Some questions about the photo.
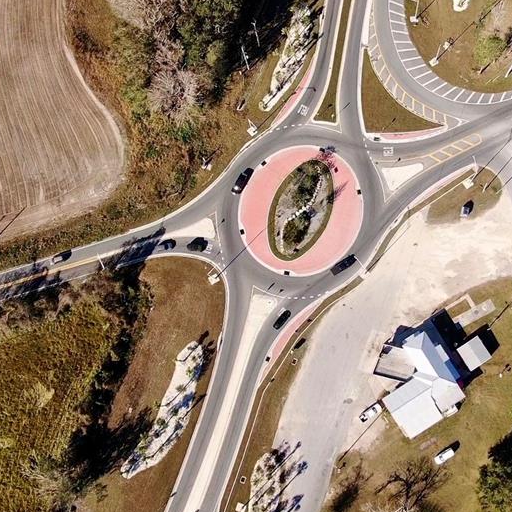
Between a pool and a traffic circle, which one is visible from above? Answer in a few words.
traffic circle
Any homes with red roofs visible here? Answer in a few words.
No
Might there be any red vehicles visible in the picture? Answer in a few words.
No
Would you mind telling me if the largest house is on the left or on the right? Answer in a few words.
right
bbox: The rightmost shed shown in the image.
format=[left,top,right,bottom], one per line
[456,336,491,370]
